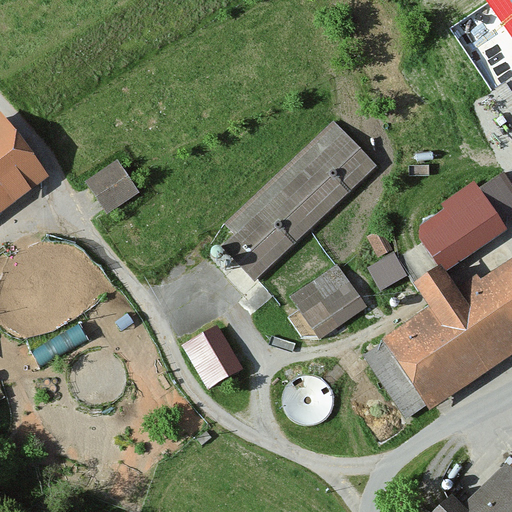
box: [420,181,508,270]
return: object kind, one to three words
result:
barn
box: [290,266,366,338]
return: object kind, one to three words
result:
barn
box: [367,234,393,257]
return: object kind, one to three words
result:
shed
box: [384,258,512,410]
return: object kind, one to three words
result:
house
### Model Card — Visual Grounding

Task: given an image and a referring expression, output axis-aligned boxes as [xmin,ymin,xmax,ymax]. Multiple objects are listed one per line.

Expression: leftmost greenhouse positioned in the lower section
[30,322,90,368]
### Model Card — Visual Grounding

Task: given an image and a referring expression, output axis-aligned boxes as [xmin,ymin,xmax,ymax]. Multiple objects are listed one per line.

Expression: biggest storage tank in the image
[282,374,334,426]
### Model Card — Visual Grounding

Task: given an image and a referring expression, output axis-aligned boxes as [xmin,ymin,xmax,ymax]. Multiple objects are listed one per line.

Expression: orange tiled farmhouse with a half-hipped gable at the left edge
[0,110,48,212]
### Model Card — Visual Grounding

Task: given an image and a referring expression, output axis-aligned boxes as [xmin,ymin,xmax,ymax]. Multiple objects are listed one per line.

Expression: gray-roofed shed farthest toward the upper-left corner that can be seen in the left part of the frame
[86,160,138,213]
